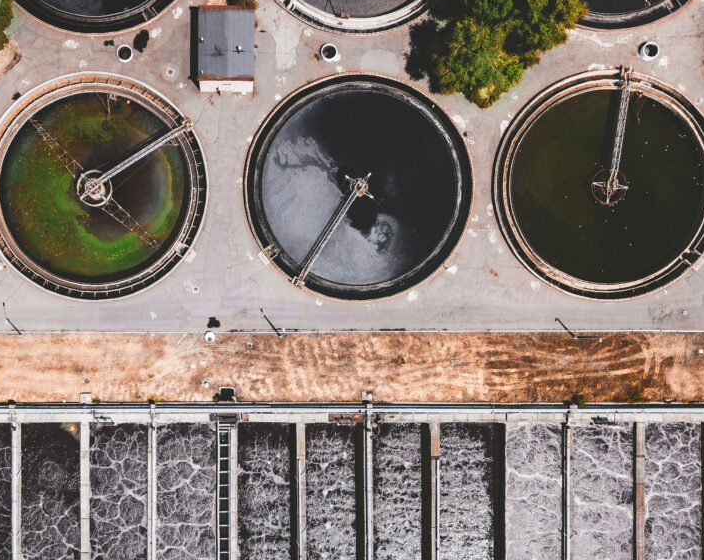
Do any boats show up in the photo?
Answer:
No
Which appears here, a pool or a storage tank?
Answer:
storage tank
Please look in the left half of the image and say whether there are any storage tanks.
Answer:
Yes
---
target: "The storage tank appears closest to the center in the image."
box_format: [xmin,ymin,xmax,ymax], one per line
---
[241,69,475,303]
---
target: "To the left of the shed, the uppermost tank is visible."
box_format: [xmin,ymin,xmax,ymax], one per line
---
[15,0,179,36]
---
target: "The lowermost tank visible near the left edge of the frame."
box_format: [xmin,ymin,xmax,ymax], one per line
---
[0,70,209,301]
